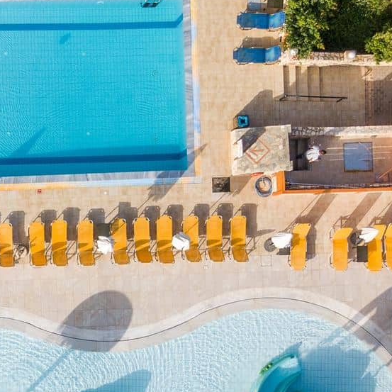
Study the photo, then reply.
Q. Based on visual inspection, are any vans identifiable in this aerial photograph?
No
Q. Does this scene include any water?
Yes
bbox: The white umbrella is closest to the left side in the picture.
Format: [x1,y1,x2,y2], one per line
[93,237,112,256]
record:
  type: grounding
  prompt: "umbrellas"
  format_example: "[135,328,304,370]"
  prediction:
[348,227,375,245]
[261,230,287,249]
[93,237,112,256]
[168,234,187,254]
